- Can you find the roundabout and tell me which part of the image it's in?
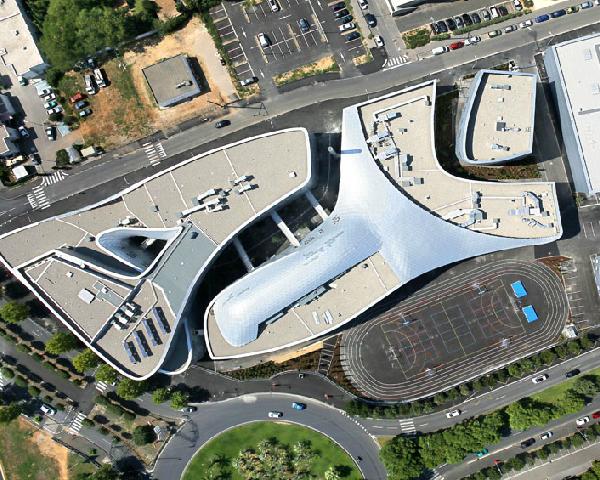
bottom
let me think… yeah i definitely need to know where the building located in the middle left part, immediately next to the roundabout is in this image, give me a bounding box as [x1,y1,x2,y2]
[0,128,309,379]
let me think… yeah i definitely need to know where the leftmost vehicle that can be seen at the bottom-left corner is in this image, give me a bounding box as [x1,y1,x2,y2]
[40,403,56,415]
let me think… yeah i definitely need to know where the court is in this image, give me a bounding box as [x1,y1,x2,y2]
[342,257,570,401]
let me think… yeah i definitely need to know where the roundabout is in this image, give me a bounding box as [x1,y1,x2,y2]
[151,394,392,480]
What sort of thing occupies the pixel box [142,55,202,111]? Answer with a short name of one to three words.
building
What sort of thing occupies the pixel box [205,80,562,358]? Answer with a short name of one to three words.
building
